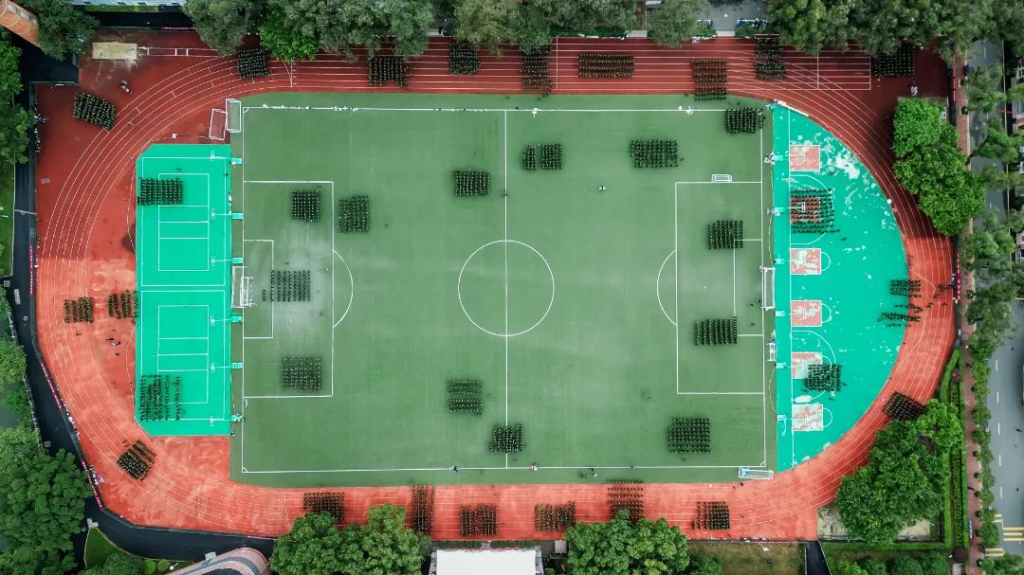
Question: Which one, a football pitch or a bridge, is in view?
football pitch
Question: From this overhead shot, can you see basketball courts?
Yes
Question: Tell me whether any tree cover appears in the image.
Yes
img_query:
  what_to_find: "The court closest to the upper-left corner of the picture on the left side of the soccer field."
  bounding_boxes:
[136,144,231,288]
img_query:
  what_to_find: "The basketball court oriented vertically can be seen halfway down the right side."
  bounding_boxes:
[774,105,907,471]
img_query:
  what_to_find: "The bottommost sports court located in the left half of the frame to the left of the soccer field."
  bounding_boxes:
[136,288,230,436]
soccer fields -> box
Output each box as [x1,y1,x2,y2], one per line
[229,92,777,487]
